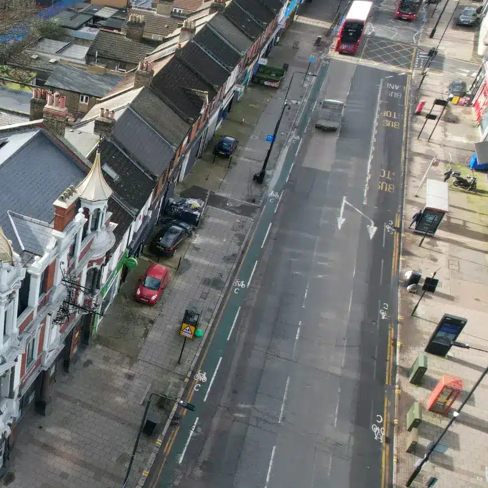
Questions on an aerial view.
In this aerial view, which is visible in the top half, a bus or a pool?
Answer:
bus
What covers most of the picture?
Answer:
paved ground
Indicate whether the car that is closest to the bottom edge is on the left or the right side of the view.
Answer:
left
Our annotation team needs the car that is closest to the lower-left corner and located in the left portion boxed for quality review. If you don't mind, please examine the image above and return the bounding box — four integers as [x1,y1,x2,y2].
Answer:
[136,260,171,302]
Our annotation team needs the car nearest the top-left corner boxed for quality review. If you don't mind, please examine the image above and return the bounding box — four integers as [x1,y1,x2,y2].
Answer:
[213,136,241,159]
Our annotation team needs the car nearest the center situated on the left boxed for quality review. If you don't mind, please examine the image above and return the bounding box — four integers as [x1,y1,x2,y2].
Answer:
[151,220,194,257]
